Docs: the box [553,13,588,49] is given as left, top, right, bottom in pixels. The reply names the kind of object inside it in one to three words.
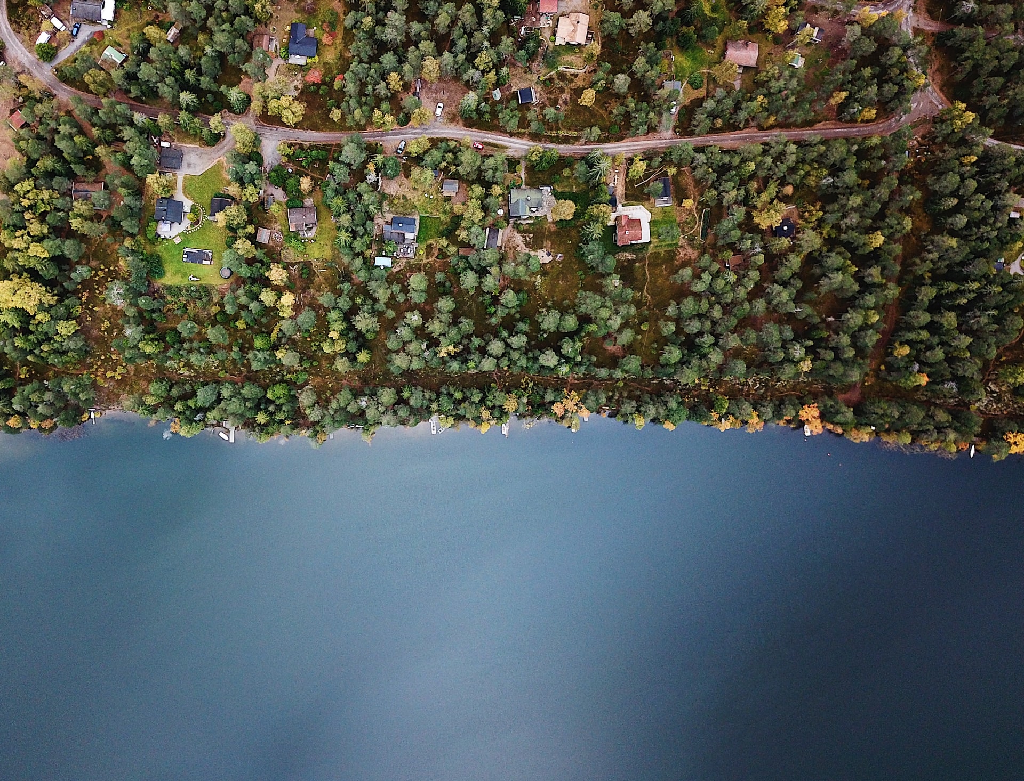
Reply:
house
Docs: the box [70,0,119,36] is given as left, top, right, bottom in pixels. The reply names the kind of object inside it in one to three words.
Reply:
house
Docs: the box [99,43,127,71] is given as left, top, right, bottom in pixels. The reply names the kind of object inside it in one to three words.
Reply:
building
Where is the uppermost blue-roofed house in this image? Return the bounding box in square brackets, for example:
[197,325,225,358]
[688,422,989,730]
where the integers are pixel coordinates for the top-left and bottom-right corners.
[288,21,320,70]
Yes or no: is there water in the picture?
Yes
